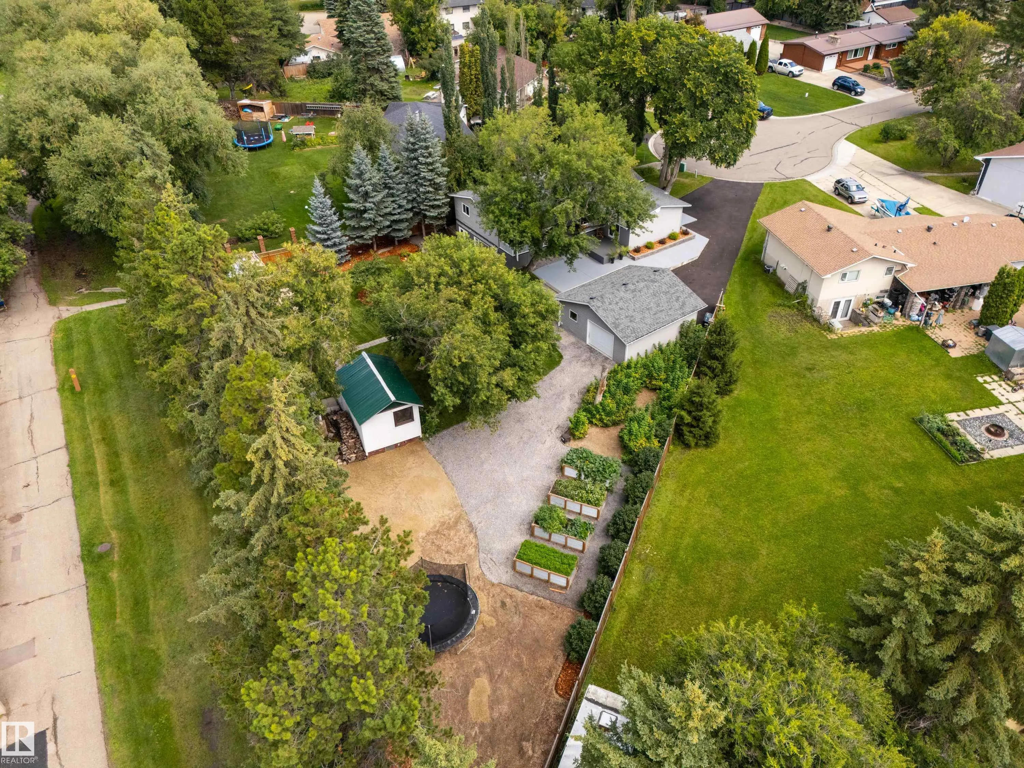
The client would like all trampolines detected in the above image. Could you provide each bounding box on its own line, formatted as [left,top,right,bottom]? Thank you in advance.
[228,115,276,152]
[391,559,480,665]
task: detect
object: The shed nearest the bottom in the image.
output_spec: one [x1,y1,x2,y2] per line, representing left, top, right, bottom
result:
[332,355,424,452]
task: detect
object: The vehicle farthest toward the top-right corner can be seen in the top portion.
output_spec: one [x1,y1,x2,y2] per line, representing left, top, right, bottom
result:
[831,74,869,95]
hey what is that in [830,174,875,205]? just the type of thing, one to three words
car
